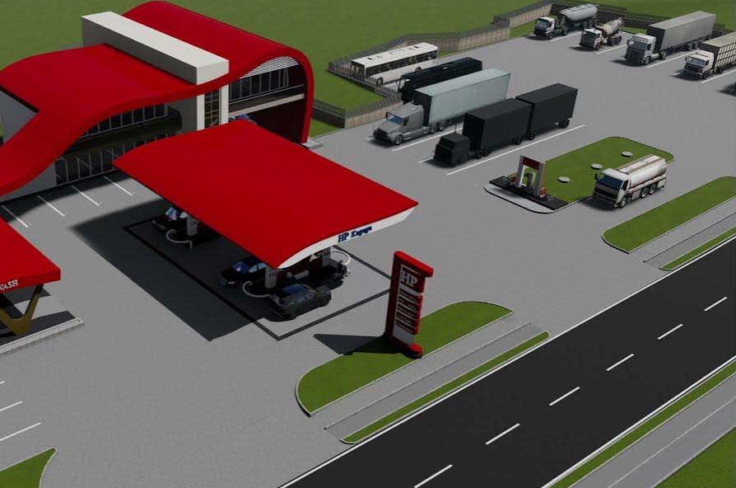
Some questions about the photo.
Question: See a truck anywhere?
Yes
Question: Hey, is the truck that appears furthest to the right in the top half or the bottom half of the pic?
top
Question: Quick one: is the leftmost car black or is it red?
black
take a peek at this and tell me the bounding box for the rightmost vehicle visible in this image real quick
[682,27,736,77]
